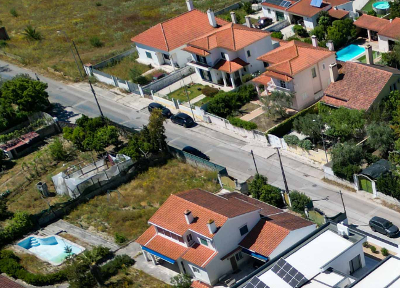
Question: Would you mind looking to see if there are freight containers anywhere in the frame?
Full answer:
No, the scene contains no freight container.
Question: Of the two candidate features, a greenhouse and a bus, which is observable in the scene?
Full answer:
There is a greenhouse in the scene.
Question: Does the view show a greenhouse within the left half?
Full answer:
Yes, a greenhouse can be seen within the left half.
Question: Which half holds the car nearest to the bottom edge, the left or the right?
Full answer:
The car nearest to the bottom edge appears in the right half of the scene.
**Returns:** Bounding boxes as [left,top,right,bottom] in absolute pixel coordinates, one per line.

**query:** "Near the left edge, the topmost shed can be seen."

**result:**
[0,131,43,161]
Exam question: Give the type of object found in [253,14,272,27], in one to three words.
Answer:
vehicle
